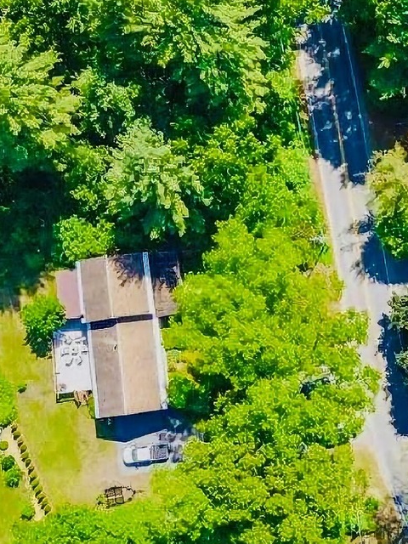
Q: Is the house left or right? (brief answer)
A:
left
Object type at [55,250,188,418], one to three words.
house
